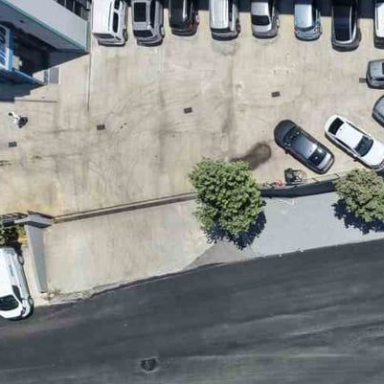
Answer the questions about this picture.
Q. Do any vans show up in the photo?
Yes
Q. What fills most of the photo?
paved ground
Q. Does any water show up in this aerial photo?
No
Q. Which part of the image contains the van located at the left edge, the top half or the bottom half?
bottom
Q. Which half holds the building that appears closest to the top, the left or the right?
left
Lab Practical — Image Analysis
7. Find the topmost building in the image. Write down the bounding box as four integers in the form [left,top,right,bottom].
[0,0,91,54]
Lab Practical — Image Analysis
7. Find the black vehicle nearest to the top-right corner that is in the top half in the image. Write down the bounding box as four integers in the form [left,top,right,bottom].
[330,0,362,51]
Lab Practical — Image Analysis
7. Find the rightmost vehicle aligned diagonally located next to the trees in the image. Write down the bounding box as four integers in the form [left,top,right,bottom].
[323,112,384,170]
